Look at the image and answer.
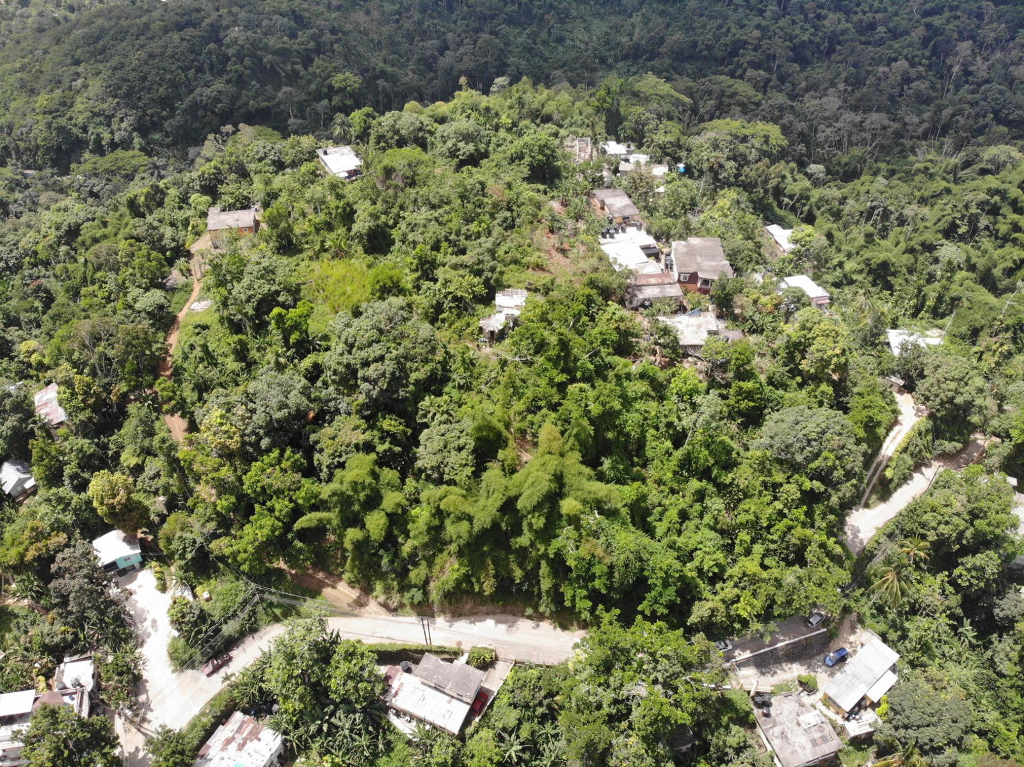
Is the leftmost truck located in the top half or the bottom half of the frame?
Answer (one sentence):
It is in the bottom half that the leftmost truck appears.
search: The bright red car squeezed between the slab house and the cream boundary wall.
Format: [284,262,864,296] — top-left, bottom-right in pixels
[470,688,493,720]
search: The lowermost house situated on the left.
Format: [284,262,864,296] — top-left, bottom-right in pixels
[200,711,283,767]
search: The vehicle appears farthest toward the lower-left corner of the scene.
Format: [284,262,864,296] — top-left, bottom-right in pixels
[199,648,237,680]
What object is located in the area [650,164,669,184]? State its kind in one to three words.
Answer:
house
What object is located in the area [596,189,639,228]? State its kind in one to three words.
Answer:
house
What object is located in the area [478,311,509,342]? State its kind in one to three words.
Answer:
shed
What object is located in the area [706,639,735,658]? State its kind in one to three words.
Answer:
car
